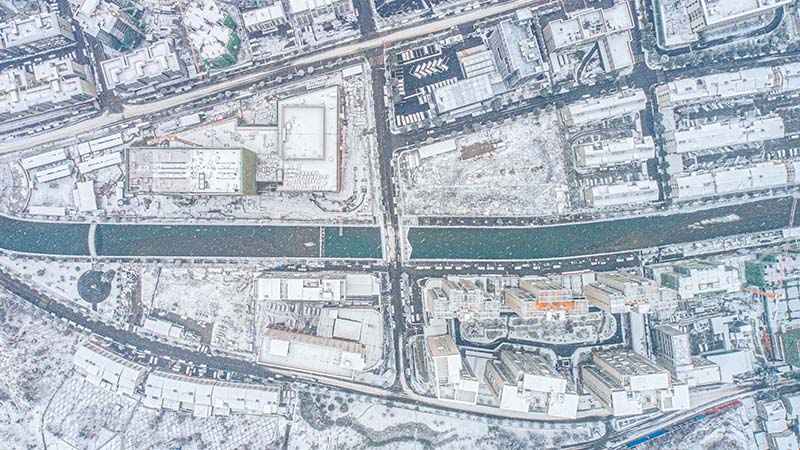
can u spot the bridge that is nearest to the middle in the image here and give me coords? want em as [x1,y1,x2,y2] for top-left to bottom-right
[381,225,412,260]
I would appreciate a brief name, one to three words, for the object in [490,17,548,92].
building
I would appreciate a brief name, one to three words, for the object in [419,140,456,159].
shed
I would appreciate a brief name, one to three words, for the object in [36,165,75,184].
shed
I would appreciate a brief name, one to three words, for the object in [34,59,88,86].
building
